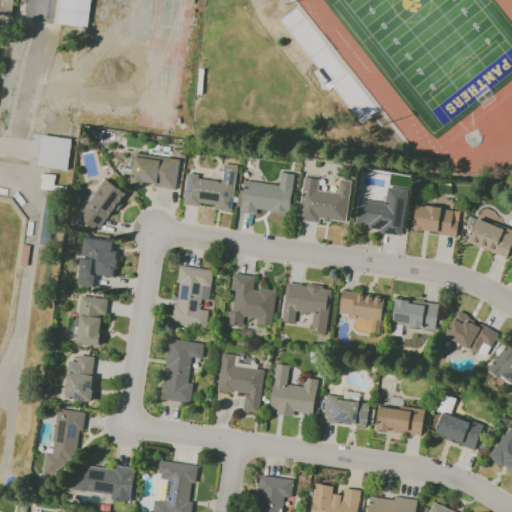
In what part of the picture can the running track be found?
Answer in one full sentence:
You can find the running track in the top right area of the picture.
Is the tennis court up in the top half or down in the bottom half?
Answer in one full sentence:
The top half of the photo is where the tennis court is.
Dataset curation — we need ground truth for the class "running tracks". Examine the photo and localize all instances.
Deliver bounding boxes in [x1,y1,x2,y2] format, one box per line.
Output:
[298,0,512,174]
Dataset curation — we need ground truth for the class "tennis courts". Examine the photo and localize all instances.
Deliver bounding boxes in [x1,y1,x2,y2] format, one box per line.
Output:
[138,0,188,127]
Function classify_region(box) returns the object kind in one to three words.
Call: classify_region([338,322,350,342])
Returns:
swimming pool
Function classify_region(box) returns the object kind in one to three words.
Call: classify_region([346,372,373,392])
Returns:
swimming pool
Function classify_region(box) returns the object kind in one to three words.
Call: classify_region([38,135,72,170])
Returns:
building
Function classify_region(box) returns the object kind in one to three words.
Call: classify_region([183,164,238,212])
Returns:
house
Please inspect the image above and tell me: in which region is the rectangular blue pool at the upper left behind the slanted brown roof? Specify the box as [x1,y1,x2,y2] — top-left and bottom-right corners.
[82,152,99,178]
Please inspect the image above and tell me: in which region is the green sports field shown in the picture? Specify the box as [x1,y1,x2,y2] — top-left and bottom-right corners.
[325,0,512,140]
